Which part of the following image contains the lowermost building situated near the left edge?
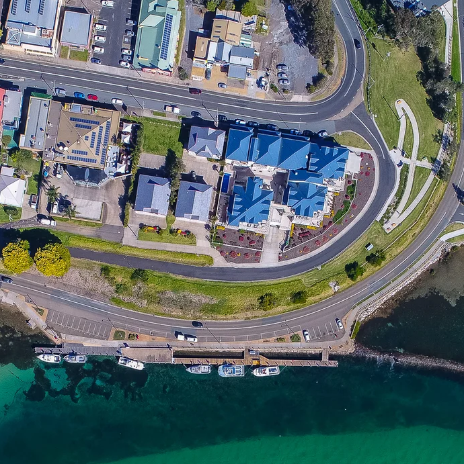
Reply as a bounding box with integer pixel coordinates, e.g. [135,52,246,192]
[0,167,27,208]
